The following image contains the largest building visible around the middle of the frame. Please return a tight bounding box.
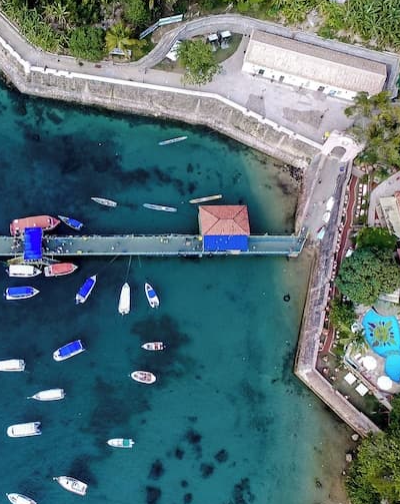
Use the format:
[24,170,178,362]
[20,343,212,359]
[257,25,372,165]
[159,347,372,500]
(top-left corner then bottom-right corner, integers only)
[197,205,250,253]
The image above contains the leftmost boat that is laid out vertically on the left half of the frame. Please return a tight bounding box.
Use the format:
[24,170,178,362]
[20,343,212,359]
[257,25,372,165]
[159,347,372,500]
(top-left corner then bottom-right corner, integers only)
[118,282,131,316]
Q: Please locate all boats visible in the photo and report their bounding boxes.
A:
[4,492,38,504]
[53,339,86,359]
[28,388,67,400]
[7,422,43,437]
[118,282,131,316]
[73,274,98,306]
[141,341,167,351]
[92,199,117,208]
[5,263,42,276]
[43,262,78,276]
[131,370,157,384]
[10,214,60,235]
[0,358,27,372]
[53,476,91,495]
[142,205,177,212]
[159,138,186,146]
[107,437,136,447]
[59,216,85,232]
[145,282,159,311]
[188,195,222,203]
[4,286,39,300]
